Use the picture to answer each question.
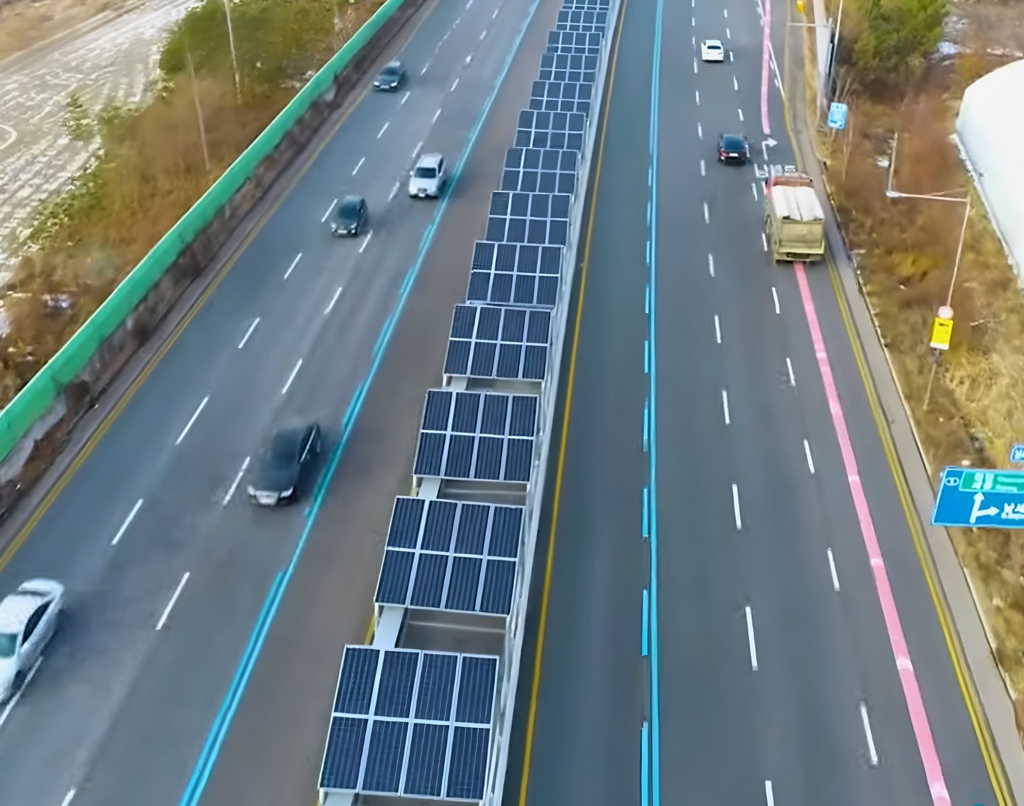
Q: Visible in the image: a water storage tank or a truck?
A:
truck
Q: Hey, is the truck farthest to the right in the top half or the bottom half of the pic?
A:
top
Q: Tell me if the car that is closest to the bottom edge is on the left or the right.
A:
left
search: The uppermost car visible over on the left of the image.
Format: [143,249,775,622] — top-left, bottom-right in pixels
[376,63,406,88]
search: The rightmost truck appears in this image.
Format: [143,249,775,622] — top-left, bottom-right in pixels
[767,172,831,264]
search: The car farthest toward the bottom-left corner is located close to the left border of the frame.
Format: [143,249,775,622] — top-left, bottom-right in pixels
[0,578,66,688]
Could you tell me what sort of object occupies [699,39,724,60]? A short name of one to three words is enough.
car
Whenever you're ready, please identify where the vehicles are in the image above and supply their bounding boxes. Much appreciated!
[376,63,406,88]
[767,172,831,264]
[0,578,66,688]
[699,39,724,60]
[250,424,319,506]
[715,135,747,164]
[410,153,447,195]
[329,197,371,237]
